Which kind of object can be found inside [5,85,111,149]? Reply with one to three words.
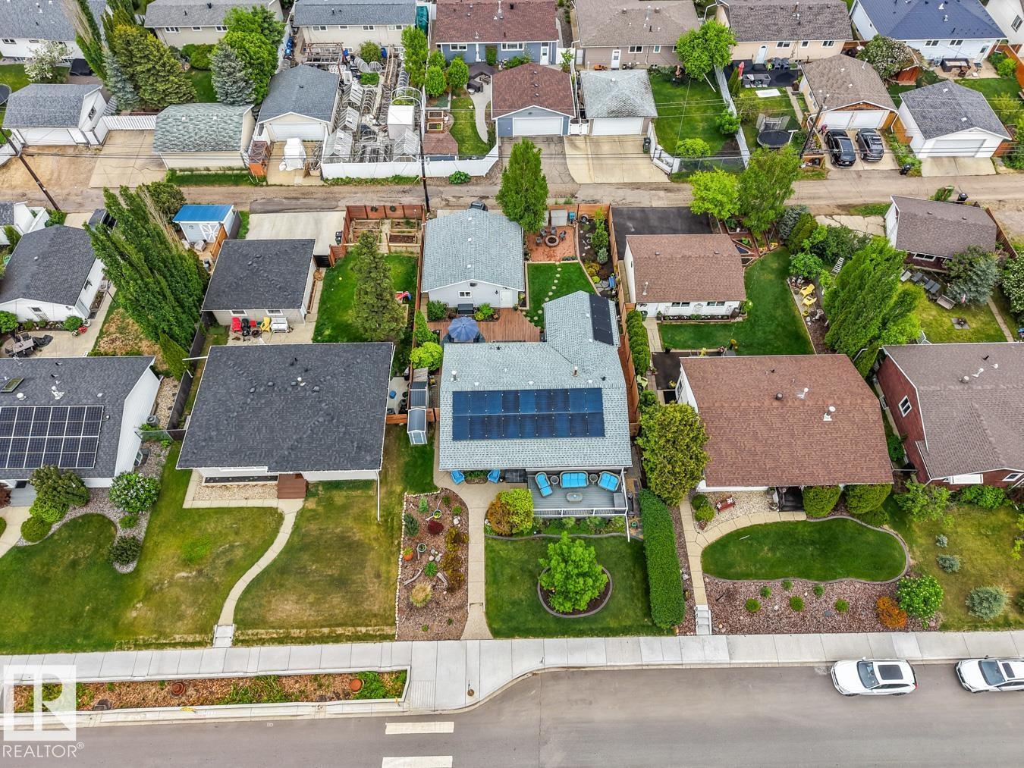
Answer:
building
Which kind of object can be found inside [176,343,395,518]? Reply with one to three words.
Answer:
house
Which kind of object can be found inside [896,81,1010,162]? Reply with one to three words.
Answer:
building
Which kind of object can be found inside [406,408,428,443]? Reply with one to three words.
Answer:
greenhouse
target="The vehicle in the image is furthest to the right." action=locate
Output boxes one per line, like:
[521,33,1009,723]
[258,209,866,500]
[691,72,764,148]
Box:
[950,653,1024,696]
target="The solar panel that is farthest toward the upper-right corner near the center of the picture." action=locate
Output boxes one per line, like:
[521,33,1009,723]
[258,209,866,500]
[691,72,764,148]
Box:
[592,296,612,345]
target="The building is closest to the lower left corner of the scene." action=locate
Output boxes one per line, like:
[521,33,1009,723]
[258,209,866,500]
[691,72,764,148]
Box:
[0,354,168,509]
